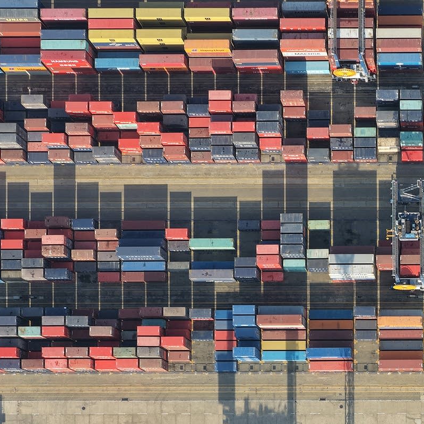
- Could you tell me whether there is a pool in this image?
No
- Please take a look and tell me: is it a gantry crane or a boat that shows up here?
gantry crane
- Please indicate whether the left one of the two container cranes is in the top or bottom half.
top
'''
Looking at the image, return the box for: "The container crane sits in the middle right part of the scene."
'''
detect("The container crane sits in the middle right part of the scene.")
[387,178,424,296]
